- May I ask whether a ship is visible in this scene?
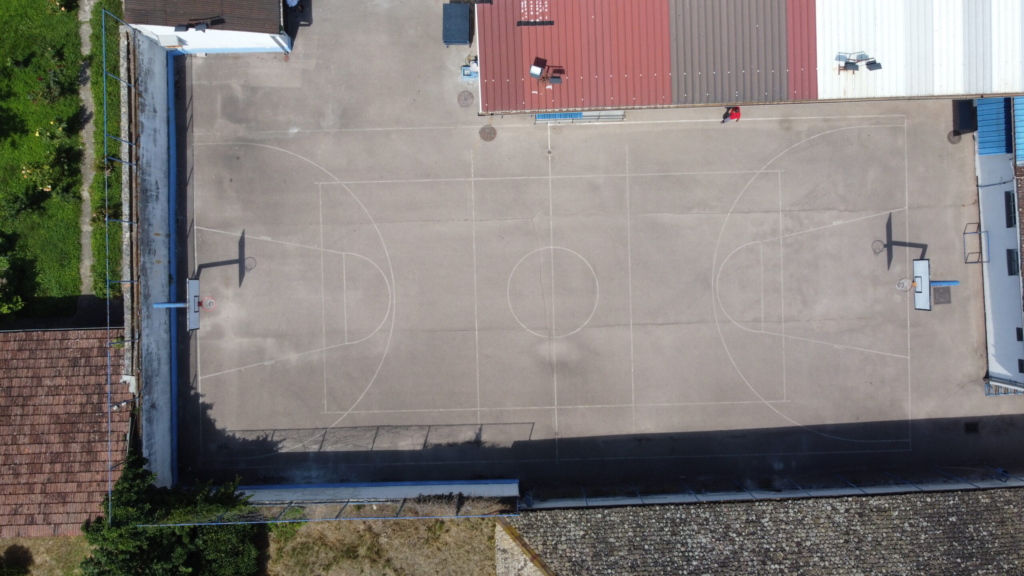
No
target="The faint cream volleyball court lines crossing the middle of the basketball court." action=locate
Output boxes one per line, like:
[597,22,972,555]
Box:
[315,145,790,432]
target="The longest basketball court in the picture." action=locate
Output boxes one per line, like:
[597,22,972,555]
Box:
[192,115,970,470]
